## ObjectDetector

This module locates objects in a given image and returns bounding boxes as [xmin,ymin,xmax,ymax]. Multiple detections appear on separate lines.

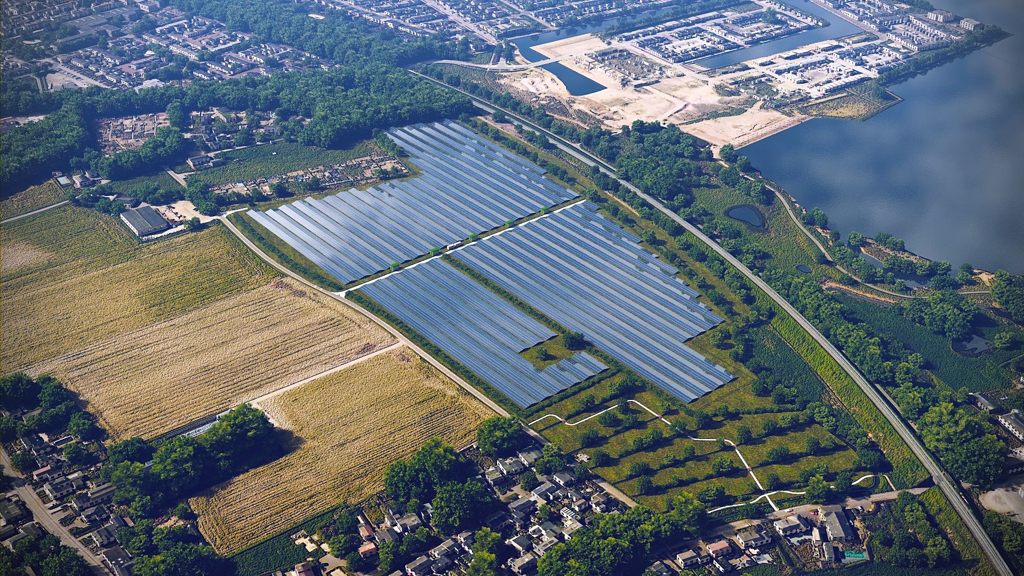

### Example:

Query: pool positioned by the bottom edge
[838,548,871,562]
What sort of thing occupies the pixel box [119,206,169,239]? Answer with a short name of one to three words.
barn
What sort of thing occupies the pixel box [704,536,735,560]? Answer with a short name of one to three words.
house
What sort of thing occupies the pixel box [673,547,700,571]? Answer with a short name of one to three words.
house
